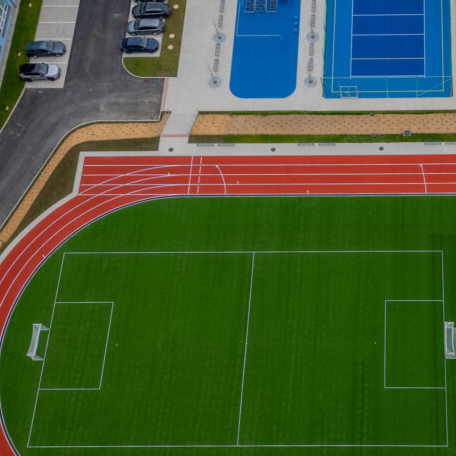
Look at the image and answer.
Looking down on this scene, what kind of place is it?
sports ground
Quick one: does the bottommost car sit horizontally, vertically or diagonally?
horizontally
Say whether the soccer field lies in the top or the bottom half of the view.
bottom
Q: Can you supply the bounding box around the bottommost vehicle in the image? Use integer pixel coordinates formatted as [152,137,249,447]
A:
[17,61,62,81]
